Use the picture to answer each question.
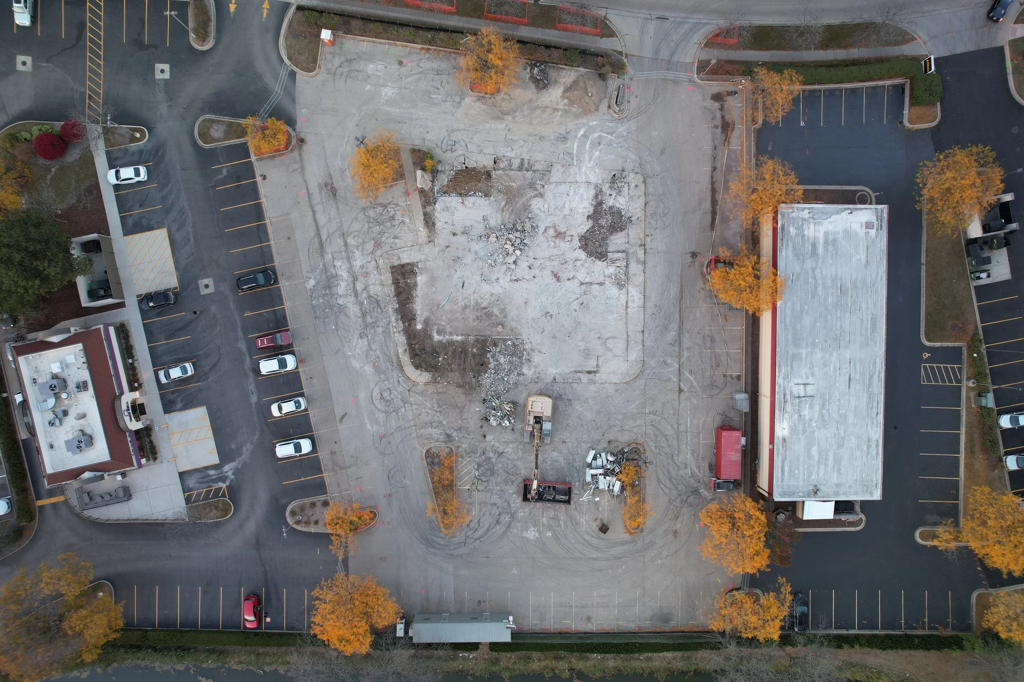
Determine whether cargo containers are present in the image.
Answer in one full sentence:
Yes, the frame does contain a cargo container.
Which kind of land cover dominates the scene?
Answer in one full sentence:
The largest share of the image is taken up by paved ground.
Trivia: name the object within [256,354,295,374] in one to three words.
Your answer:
car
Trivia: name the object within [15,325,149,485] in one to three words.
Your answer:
building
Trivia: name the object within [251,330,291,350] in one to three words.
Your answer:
car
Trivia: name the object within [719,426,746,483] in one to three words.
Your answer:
shipping container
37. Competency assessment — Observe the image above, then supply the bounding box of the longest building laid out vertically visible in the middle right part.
[753,201,889,501]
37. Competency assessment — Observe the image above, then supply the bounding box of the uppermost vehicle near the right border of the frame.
[987,0,1014,24]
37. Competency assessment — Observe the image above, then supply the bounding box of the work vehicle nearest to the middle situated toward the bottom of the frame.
[524,400,552,504]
